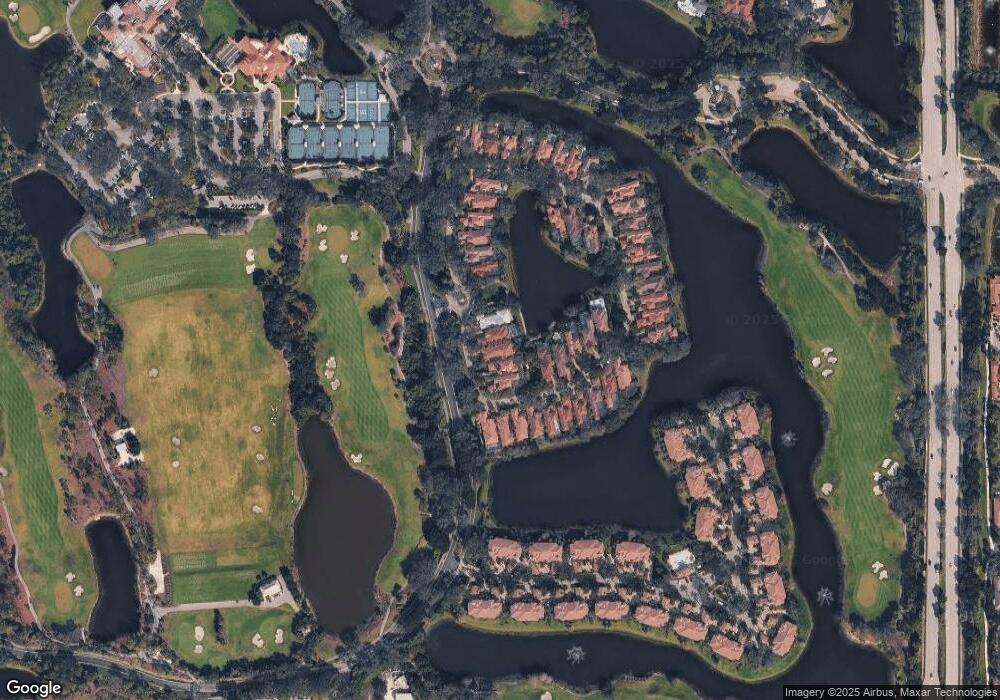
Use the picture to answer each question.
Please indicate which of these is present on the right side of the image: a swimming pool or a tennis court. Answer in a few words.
swimming pool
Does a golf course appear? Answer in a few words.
Yes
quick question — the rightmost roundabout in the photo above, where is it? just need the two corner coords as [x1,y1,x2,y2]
[694,78,743,124]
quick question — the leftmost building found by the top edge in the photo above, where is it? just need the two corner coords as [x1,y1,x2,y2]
[99,0,182,79]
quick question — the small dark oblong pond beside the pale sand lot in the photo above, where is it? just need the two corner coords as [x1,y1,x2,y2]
[86,517,140,639]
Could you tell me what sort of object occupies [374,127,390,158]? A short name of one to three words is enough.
tennis court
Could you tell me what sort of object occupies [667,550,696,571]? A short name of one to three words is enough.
swimming pool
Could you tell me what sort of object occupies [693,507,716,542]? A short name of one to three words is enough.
building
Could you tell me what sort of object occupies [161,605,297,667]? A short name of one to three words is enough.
golf course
